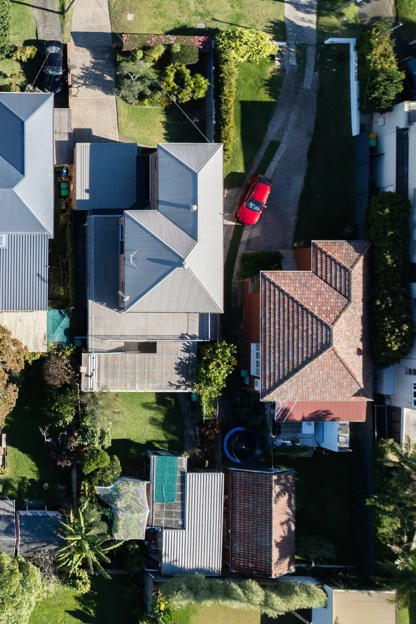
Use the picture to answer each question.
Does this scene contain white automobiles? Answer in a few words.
No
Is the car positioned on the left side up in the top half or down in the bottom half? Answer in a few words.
top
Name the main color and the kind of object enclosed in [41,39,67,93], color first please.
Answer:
black car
